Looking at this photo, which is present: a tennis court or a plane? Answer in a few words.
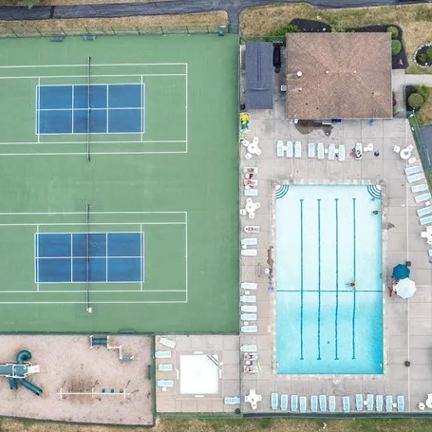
tennis court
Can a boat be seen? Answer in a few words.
No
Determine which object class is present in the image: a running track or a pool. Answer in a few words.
pool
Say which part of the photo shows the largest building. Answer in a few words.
top right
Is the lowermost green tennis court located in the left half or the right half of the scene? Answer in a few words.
left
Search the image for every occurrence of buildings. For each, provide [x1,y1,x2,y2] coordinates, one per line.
[246,39,274,112]
[285,31,394,122]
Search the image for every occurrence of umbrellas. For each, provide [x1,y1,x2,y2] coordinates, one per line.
[391,262,410,280]
[394,277,416,298]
